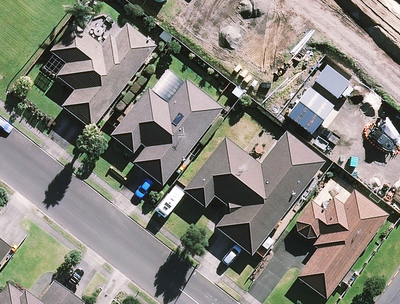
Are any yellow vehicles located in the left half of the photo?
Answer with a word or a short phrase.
No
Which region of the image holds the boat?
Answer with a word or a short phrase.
right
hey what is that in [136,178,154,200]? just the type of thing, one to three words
car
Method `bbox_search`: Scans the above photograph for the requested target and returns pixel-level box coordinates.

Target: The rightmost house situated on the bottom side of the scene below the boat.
[298,190,390,298]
